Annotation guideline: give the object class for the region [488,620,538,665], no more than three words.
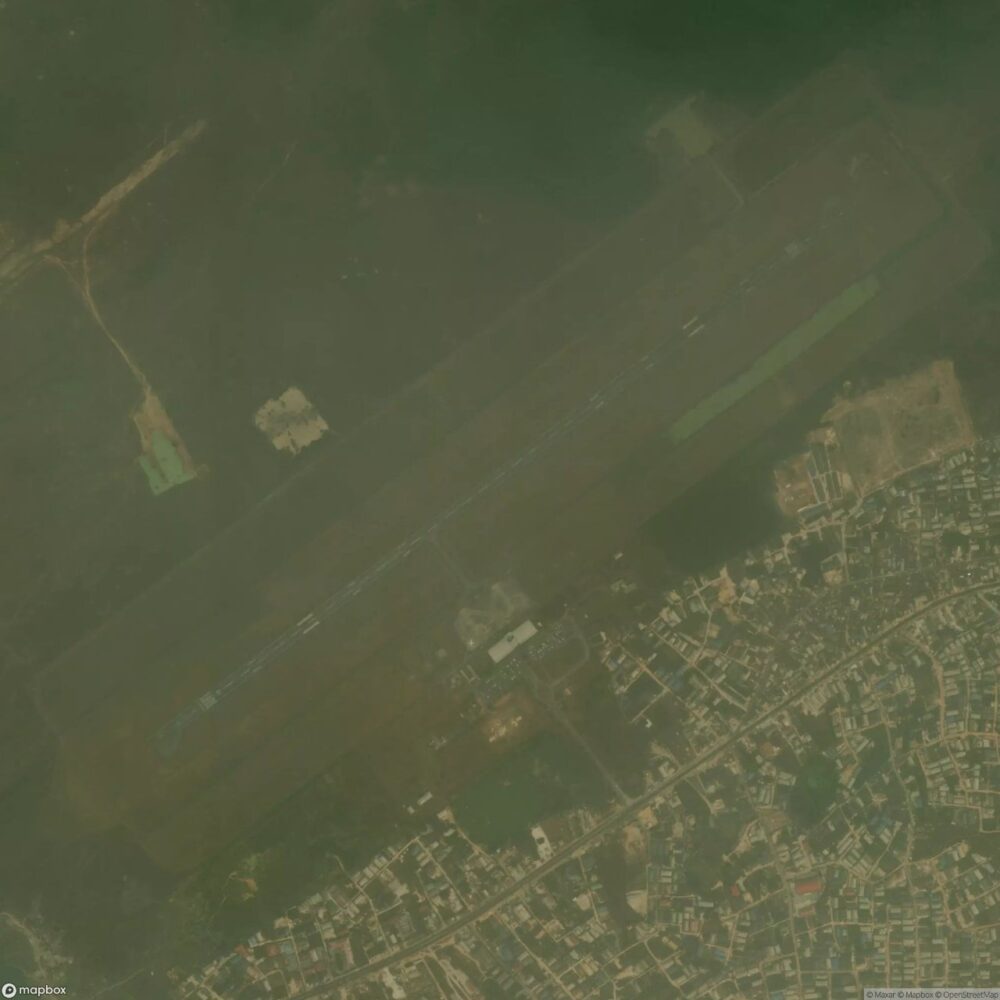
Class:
building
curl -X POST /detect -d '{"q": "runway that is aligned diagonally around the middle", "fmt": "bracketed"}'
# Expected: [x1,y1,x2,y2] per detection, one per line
[156,206,846,742]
